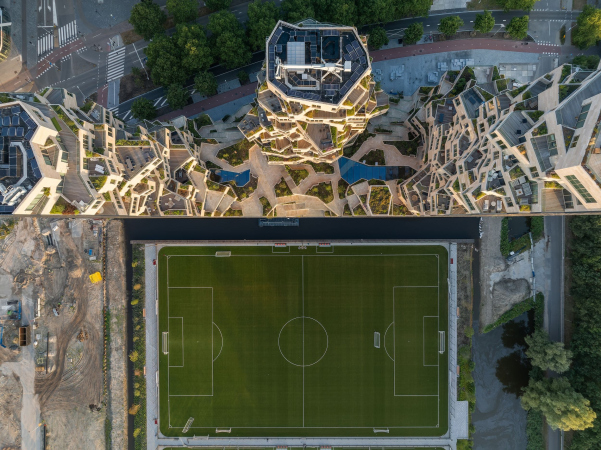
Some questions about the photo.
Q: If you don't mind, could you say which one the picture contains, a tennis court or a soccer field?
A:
soccer field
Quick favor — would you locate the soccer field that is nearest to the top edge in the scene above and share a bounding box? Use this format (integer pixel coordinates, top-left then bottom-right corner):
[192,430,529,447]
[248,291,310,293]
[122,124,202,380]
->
[158,246,450,438]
